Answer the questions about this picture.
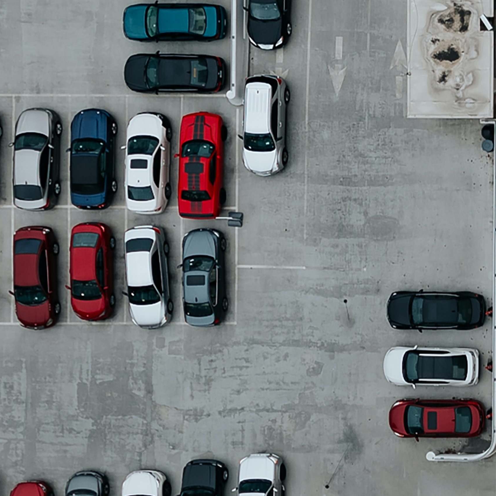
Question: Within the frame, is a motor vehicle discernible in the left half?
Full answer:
Yes, looking in the left half, one can make out a motor vehicle.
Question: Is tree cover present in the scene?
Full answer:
No, no tree cover is visible.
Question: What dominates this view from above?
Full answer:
What you mostly see from above here is paved ground.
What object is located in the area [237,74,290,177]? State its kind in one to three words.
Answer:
car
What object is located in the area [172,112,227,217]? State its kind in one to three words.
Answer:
car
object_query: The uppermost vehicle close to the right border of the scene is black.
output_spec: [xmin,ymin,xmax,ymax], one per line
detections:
[387,287,487,335]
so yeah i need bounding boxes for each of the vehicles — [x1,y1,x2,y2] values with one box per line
[122,469,172,496]
[383,342,481,393]
[172,112,227,217]
[65,108,118,209]
[173,458,228,496]
[118,224,173,329]
[63,222,115,322]
[66,470,109,496]
[237,74,290,177]
[389,395,485,443]
[118,112,172,214]
[7,226,61,330]
[123,0,227,43]
[229,453,286,496]
[175,227,228,327]
[125,47,226,96]
[387,287,487,335]
[6,107,62,212]
[242,0,291,51]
